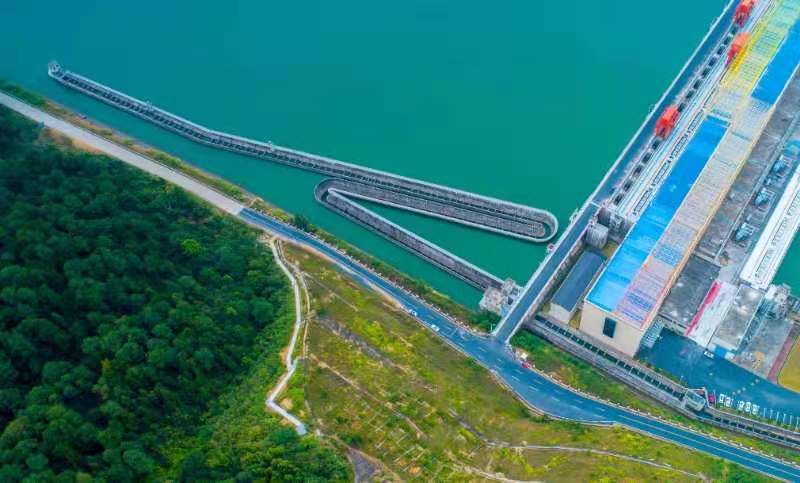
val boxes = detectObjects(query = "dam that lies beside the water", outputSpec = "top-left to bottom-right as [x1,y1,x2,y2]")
[486,0,744,349]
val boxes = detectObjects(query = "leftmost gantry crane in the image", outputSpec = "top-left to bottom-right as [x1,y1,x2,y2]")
[654,104,681,140]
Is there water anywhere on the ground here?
Yes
